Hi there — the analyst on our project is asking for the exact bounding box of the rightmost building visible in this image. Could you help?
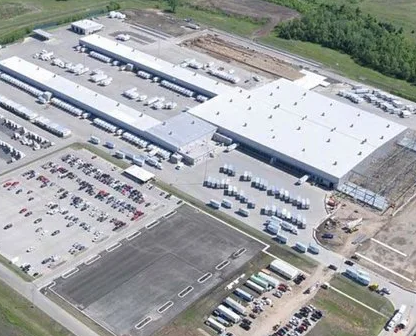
[338,135,416,211]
